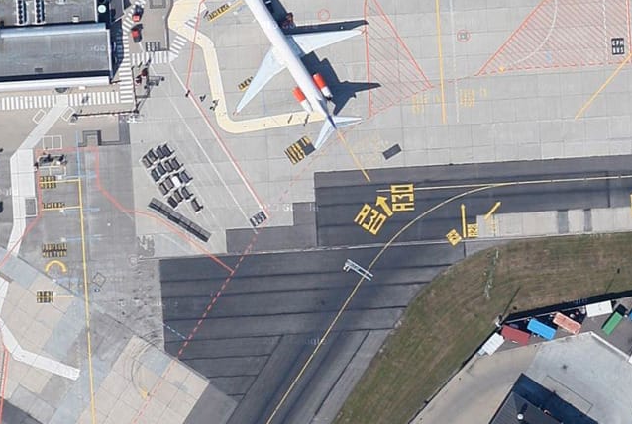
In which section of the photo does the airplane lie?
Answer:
top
